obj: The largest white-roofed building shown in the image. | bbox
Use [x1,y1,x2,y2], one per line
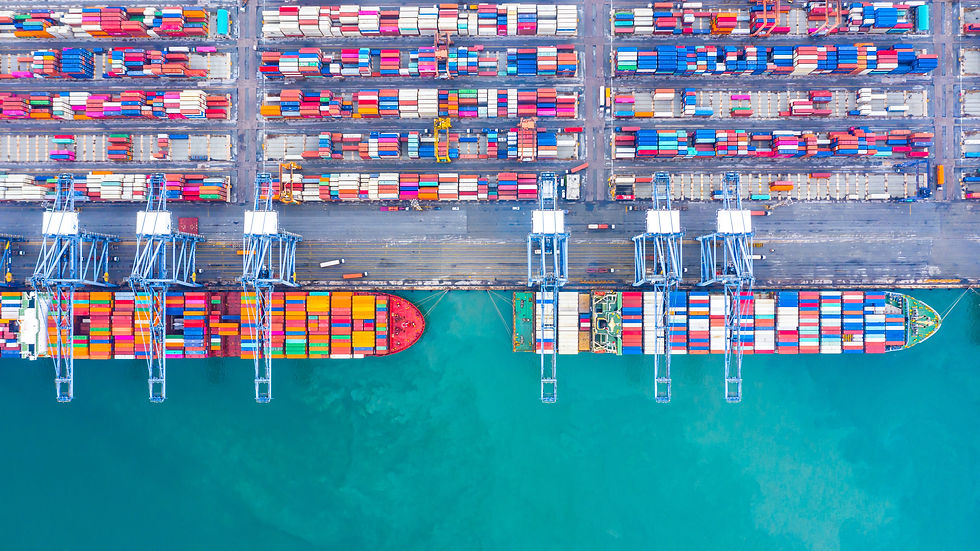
[564,174,581,200]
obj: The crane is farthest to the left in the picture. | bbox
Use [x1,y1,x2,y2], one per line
[0,234,32,287]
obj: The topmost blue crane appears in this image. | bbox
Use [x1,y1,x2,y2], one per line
[894,160,932,204]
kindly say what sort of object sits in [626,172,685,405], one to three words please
container crane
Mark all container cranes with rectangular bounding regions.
[894,160,932,204]
[522,172,571,405]
[128,172,208,405]
[31,172,123,405]
[749,0,778,38]
[240,172,305,405]
[278,161,304,205]
[435,31,454,80]
[626,172,685,405]
[0,234,32,287]
[434,117,453,165]
[690,172,756,405]
[518,117,537,165]
[808,0,839,38]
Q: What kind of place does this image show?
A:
port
